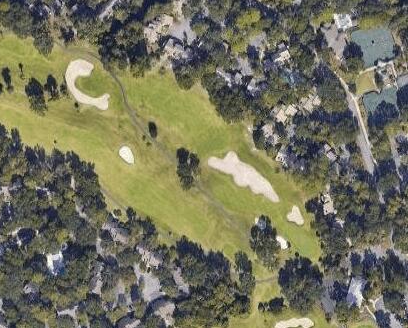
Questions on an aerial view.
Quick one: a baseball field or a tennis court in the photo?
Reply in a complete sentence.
It is a tennis court that can be seen here.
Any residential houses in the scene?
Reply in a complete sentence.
Yes, this view includes a residential house.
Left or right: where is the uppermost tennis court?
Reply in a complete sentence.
You can find the uppermost tennis court on the right side of the picture.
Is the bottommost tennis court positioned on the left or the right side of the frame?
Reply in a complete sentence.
It is on the right.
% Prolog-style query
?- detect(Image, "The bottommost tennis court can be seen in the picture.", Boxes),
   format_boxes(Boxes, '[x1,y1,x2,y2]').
[360,84,400,121]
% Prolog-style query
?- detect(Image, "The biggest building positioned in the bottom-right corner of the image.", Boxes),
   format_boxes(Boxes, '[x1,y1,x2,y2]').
[343,275,368,308]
